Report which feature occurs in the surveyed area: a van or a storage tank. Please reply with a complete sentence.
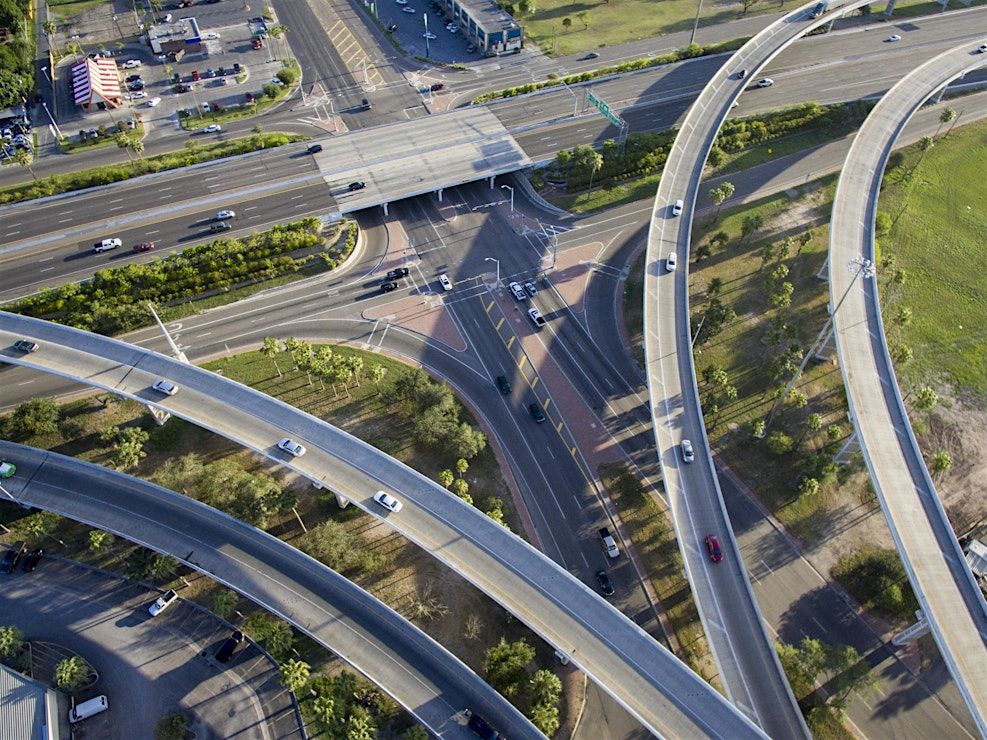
The image shows a van.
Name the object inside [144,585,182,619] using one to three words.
truck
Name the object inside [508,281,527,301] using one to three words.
vehicle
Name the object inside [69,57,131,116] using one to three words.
building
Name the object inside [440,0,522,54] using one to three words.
building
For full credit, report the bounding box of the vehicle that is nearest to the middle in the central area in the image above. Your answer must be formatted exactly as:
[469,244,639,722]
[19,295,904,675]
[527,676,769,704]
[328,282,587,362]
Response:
[495,374,512,394]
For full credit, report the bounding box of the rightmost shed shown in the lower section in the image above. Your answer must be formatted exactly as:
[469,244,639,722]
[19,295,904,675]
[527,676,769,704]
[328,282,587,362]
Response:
[958,535,987,589]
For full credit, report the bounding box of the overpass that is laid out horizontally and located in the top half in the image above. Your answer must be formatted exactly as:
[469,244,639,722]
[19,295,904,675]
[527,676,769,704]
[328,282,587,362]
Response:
[305,106,536,222]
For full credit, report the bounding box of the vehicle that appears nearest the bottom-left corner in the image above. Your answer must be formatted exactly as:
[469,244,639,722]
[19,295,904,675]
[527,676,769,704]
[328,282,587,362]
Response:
[67,694,108,723]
